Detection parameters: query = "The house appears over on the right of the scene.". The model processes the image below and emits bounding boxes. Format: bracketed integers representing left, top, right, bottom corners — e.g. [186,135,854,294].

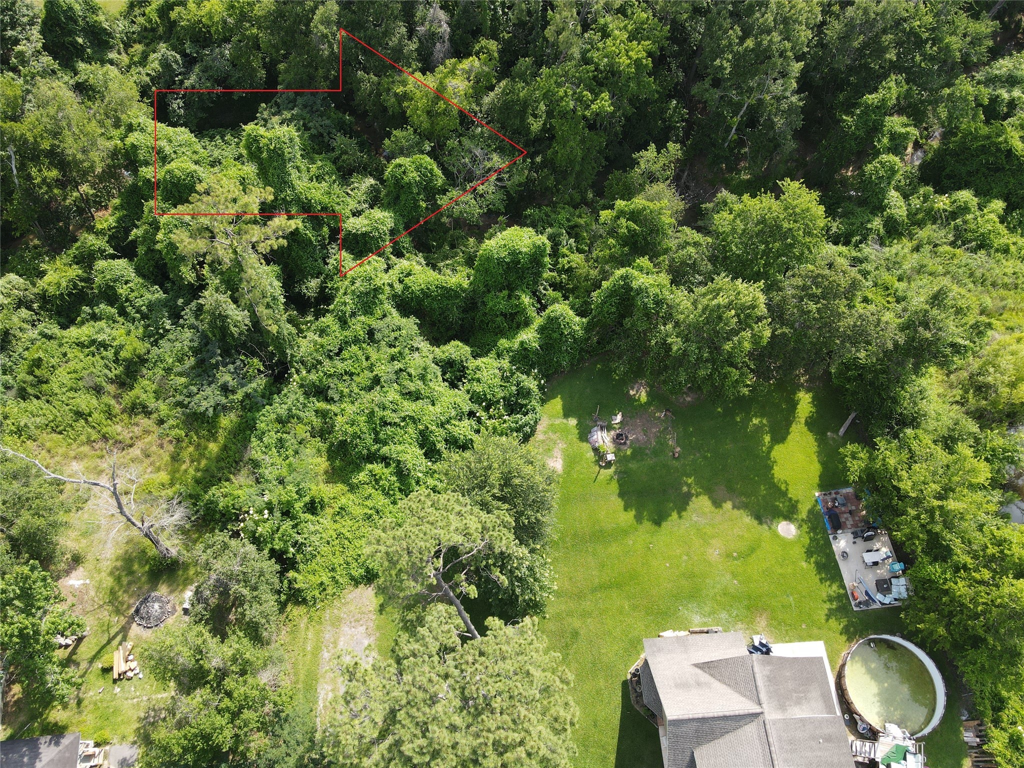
[640,632,853,768]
